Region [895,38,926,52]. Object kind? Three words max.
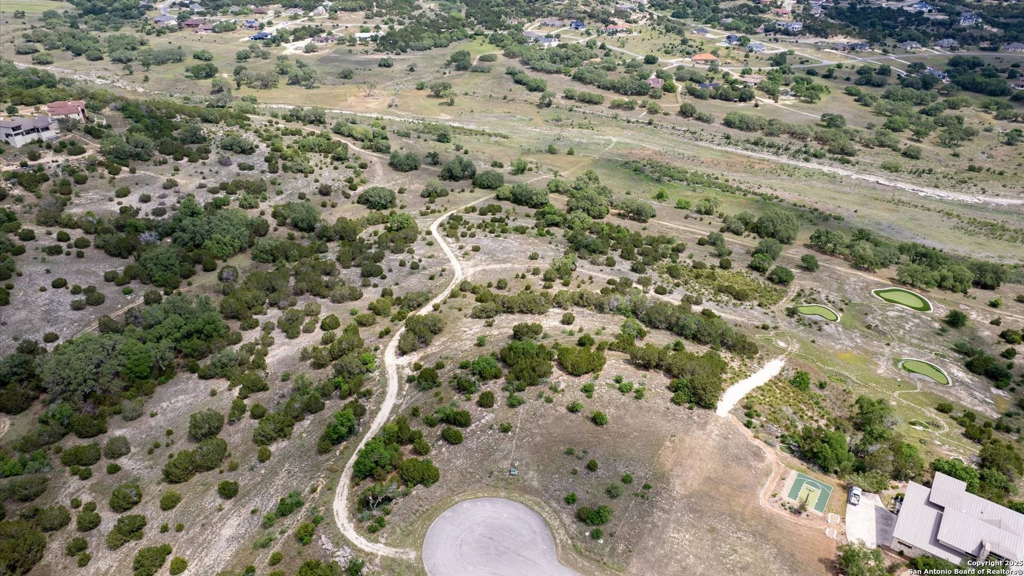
house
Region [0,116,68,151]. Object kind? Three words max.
house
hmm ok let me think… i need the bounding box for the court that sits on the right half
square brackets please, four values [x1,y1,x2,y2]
[788,472,832,512]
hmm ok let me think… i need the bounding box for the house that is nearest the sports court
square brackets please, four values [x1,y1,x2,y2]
[890,472,1024,576]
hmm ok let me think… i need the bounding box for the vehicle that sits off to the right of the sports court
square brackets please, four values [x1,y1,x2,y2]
[848,486,861,509]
